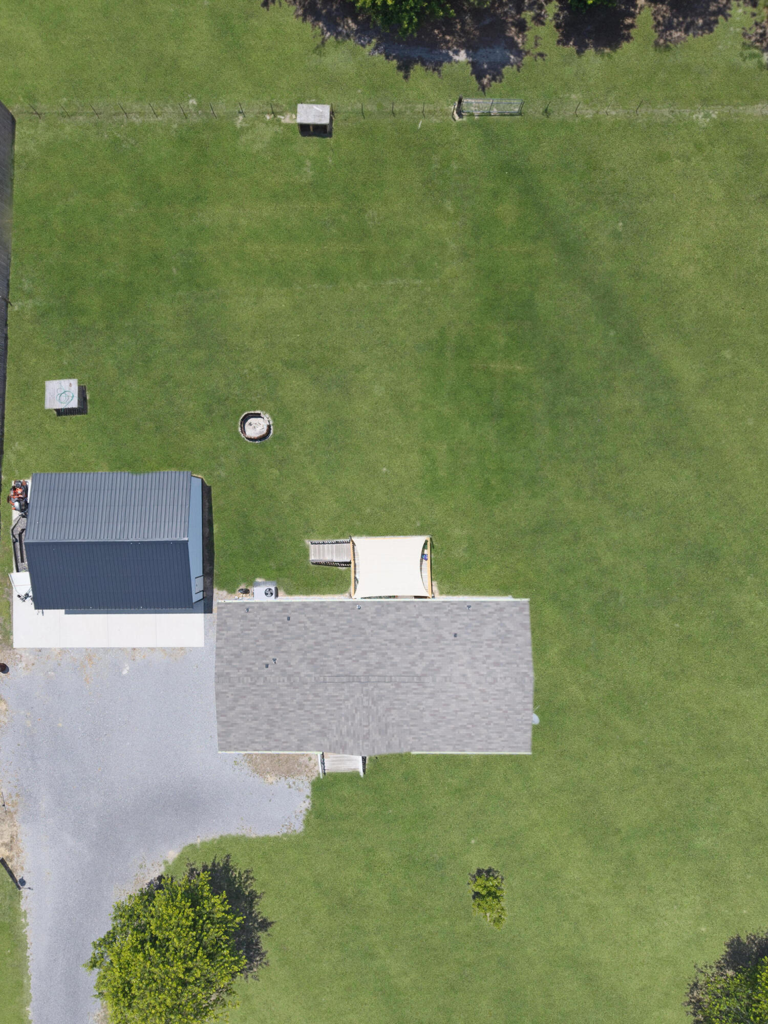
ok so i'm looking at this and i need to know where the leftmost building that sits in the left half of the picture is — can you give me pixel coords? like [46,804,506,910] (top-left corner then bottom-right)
[23,471,207,610]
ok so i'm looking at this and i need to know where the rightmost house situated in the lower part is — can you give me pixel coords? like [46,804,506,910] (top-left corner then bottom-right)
[214,592,535,757]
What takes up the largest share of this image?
grass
